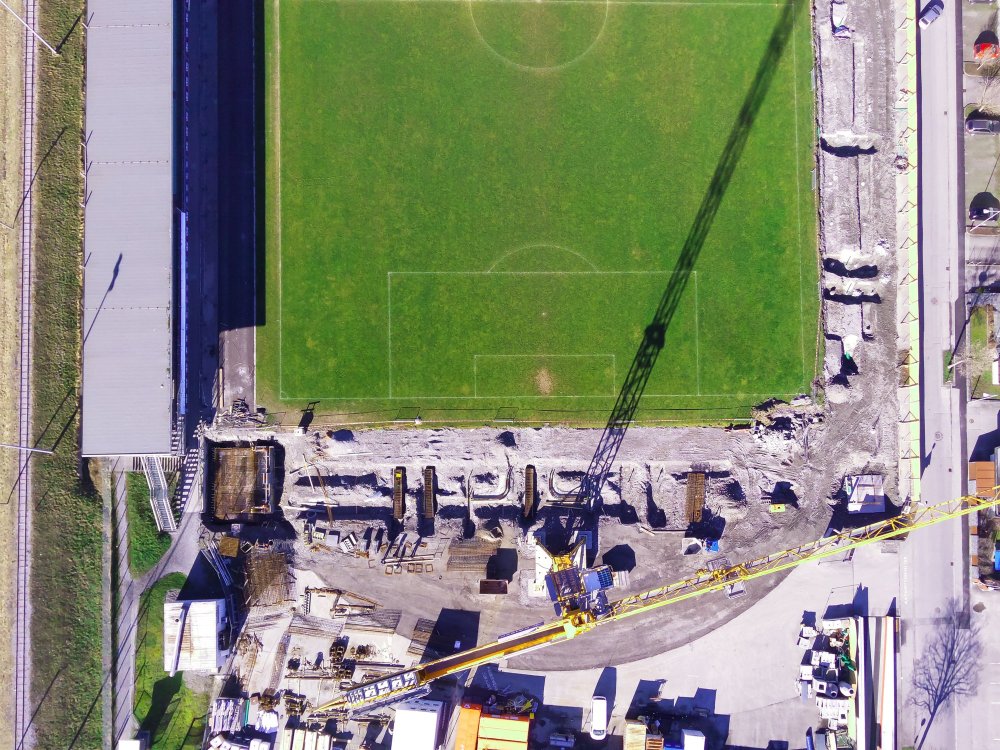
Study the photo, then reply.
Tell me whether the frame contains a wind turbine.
No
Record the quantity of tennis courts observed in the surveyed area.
none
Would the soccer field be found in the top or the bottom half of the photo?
top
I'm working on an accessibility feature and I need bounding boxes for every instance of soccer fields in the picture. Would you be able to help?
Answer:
[255,0,823,429]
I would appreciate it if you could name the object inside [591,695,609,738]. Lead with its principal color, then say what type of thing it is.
white vehicle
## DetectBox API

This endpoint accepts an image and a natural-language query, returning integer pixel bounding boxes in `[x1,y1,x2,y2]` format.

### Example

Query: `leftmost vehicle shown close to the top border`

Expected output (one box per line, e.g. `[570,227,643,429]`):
[917,0,944,29]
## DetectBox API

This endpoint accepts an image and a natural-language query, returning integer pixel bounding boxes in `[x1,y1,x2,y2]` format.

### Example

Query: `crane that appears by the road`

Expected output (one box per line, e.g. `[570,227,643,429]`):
[299,480,1000,724]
